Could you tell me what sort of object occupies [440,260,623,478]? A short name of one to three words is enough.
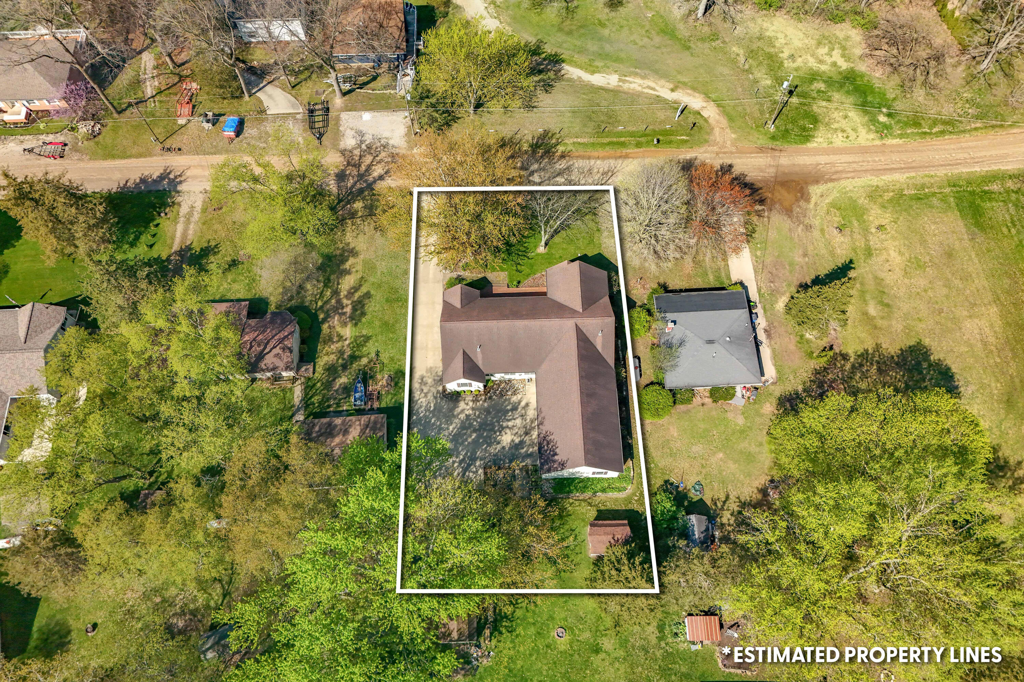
house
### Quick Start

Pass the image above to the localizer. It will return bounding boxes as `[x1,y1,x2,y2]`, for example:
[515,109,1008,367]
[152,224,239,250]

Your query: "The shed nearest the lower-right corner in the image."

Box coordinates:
[683,617,721,641]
